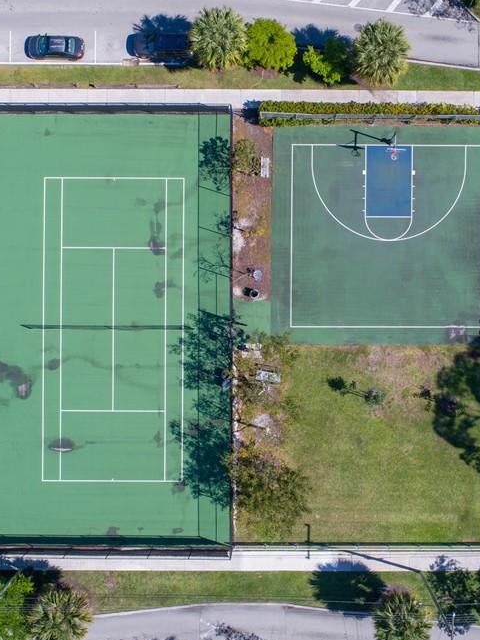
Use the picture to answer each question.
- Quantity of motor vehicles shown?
2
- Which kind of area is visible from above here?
sports ground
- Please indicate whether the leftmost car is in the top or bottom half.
top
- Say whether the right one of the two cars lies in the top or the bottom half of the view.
top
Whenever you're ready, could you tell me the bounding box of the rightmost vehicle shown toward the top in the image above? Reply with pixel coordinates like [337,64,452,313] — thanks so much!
[128,32,193,63]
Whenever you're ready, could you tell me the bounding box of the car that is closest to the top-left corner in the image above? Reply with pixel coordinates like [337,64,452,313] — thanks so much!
[27,33,86,63]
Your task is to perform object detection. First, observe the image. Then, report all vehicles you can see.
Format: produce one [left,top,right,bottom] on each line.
[128,32,193,63]
[27,33,86,63]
